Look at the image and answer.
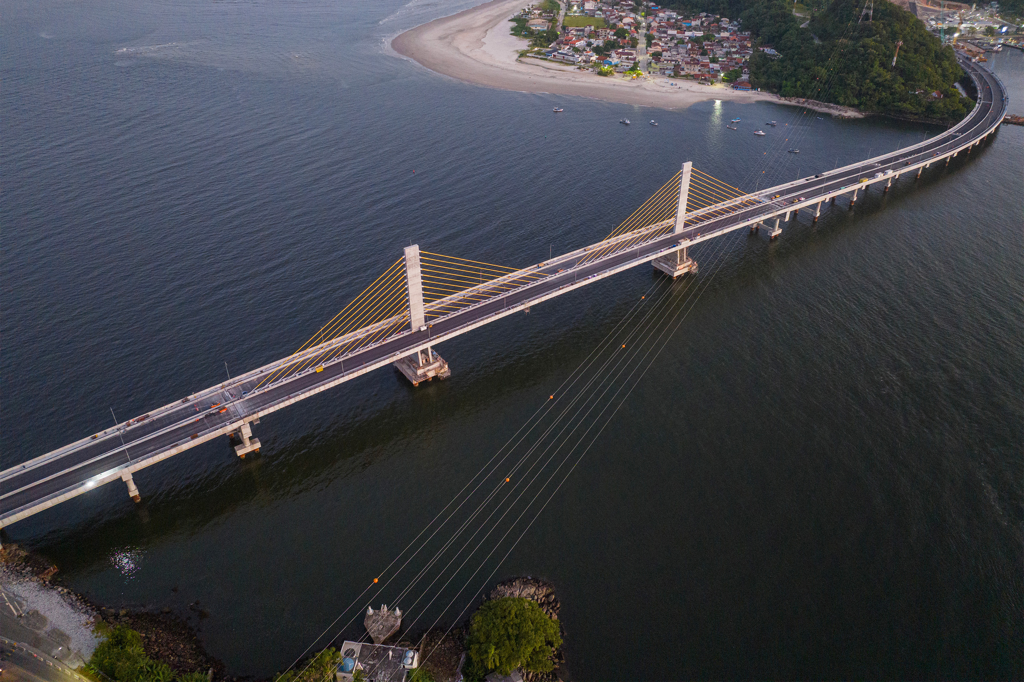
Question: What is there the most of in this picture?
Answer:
water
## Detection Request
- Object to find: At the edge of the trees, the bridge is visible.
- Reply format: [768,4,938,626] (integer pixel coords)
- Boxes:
[0,66,1008,552]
